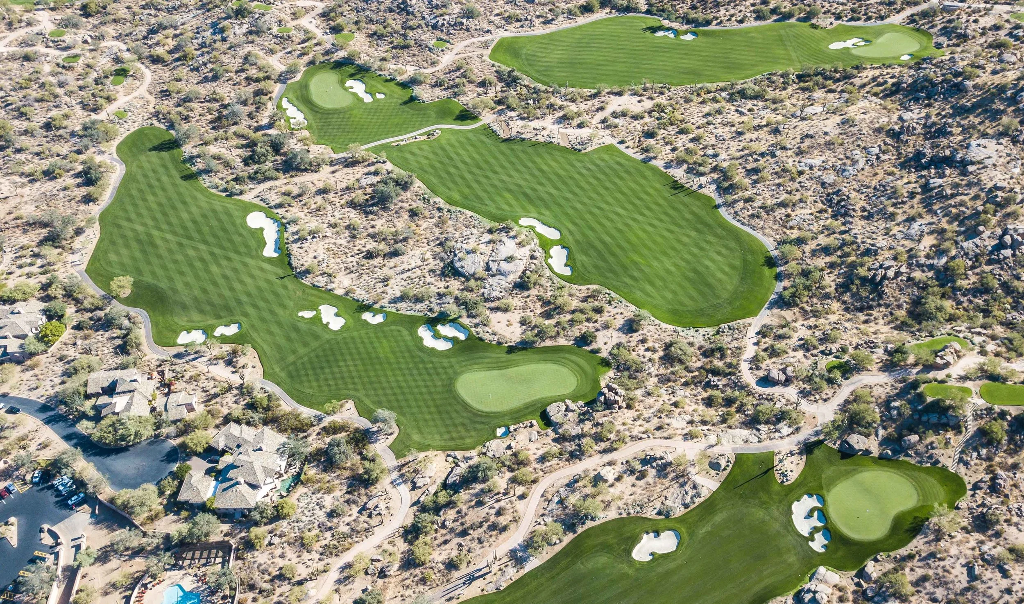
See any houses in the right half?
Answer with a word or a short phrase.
No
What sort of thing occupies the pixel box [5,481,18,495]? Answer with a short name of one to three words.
vehicle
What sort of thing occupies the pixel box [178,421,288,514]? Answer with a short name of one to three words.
house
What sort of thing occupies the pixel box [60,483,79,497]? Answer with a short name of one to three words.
car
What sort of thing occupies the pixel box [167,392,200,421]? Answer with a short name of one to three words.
house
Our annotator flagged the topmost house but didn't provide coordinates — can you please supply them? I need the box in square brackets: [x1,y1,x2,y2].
[0,301,48,358]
